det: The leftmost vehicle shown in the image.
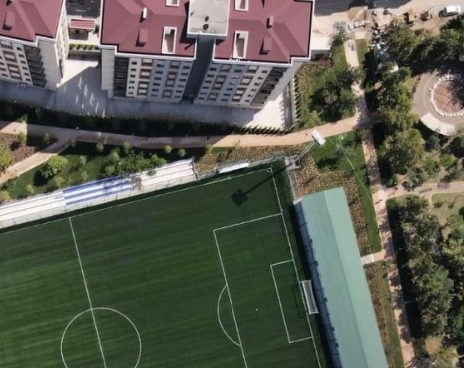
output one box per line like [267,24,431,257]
[395,1,421,20]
